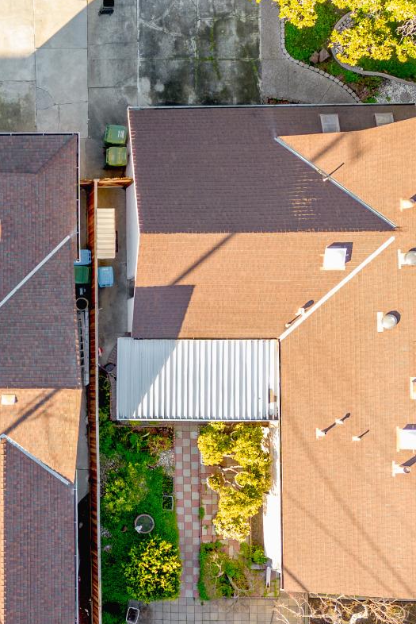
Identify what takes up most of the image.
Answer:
buildings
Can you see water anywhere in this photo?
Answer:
No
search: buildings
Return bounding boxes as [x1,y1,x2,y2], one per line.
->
[0,131,81,624]
[104,102,416,601]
